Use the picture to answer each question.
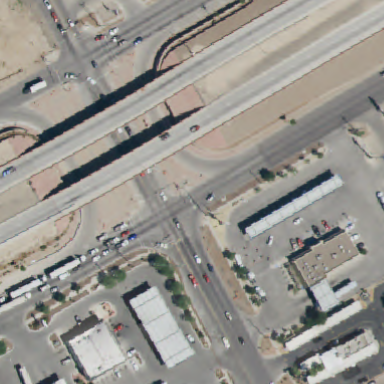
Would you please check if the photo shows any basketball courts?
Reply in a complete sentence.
No, there isn't any basketball court down there.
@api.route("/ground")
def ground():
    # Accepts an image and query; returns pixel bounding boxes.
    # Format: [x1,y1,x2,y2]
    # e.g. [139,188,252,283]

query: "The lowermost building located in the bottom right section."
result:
[306,328,376,368]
